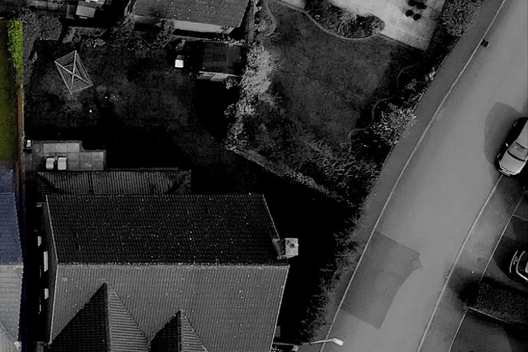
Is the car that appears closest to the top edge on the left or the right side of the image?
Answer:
right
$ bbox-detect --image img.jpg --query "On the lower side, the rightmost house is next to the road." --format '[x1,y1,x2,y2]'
[35,170,300,352]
